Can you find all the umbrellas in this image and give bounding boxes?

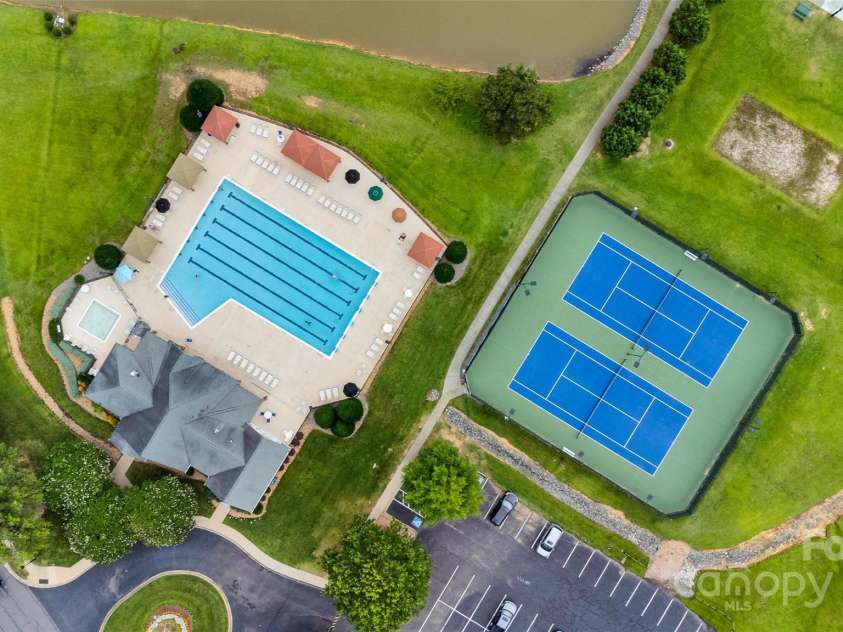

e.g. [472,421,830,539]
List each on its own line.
[116,265,134,284]
[344,382,358,397]
[393,208,407,223]
[157,199,171,212]
[346,170,360,184]
[369,187,383,201]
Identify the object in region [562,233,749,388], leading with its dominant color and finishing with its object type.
blue tennis court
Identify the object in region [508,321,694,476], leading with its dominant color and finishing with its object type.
blue tennis court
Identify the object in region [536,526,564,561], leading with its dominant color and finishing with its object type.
white car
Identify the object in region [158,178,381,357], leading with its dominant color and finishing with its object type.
blue swimming pool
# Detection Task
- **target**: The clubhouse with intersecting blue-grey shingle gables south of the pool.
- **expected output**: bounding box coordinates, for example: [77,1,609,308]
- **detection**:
[86,331,291,514]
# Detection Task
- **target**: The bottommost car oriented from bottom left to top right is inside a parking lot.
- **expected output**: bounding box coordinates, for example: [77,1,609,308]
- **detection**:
[487,602,515,632]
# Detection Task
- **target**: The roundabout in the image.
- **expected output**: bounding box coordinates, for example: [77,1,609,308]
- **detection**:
[99,569,233,632]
